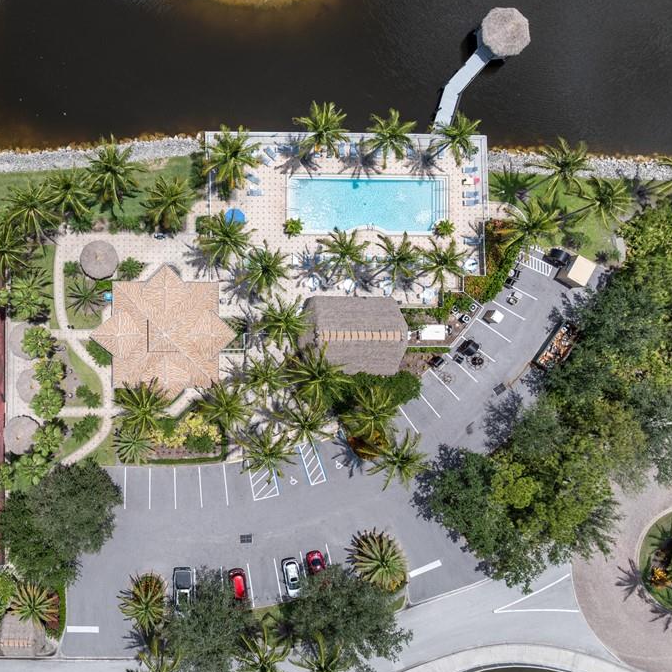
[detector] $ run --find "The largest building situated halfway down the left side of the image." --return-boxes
[90,264,237,402]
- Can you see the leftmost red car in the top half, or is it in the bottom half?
bottom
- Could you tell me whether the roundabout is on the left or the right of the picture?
right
